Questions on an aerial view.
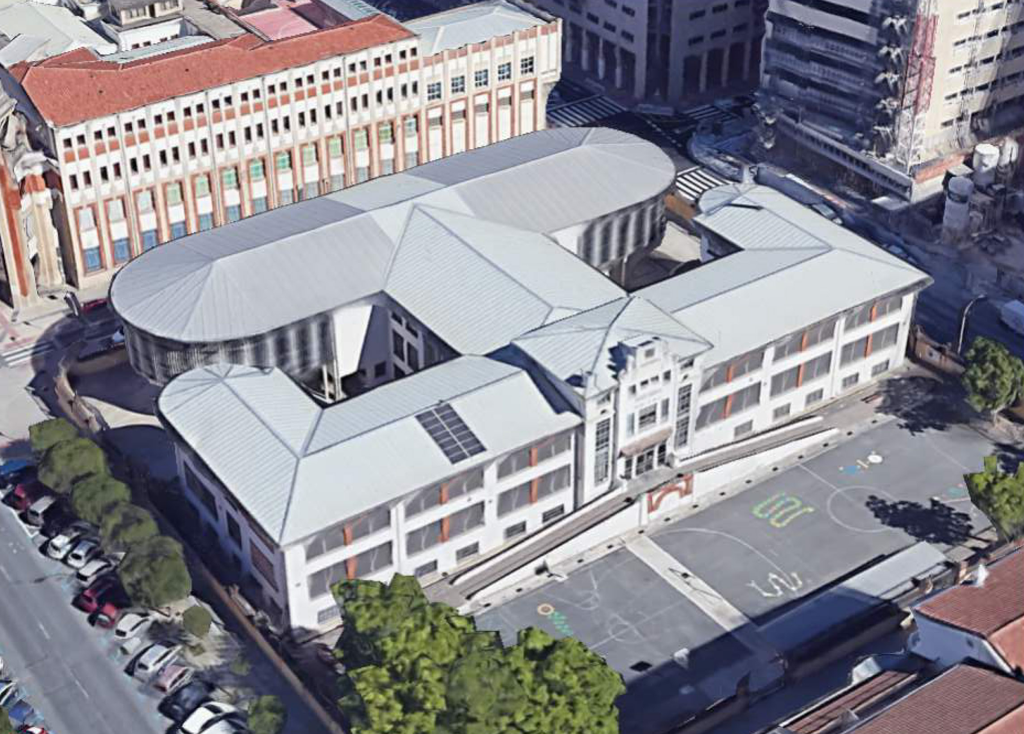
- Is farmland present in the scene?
No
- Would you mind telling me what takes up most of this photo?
buildings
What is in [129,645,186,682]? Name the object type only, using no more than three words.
car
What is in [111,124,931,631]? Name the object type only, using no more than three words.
building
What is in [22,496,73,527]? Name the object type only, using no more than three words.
car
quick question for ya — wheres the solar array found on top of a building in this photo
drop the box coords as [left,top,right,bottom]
[413,397,495,468]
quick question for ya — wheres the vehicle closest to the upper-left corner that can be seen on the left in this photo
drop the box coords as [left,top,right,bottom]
[85,287,112,311]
